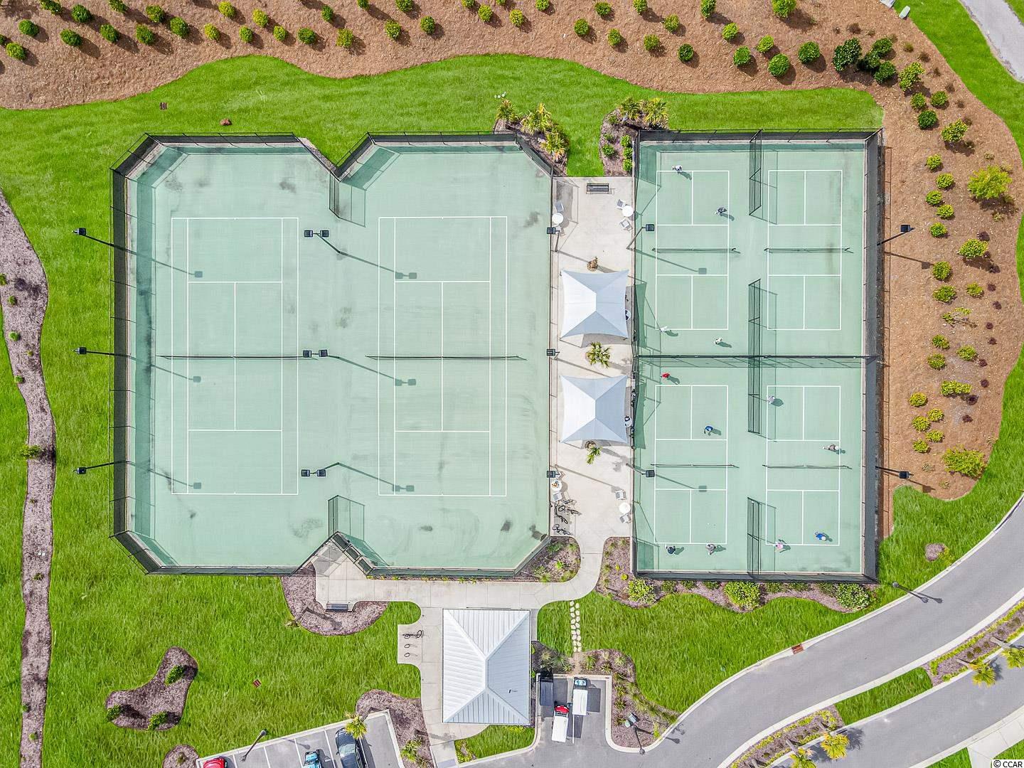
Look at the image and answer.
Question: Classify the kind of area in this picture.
sports ground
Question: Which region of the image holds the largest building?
bottom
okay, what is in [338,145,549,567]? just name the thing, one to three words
tennis court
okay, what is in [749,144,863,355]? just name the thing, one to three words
sports court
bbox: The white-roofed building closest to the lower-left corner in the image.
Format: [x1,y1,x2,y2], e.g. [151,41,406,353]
[441,607,532,726]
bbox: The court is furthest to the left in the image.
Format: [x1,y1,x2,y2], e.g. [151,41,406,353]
[131,147,340,565]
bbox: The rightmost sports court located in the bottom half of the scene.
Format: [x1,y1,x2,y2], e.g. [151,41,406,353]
[748,358,861,570]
